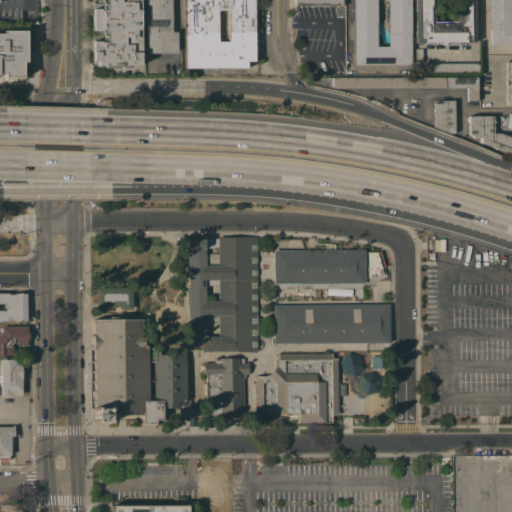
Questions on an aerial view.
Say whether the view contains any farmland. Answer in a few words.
No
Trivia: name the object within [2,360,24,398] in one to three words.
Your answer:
house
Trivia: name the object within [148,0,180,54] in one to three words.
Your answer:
building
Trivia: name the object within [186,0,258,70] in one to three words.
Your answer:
building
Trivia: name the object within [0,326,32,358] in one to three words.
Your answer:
house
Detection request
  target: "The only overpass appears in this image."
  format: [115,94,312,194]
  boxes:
[0,106,512,254]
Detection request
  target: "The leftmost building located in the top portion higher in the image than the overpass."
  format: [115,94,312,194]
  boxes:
[0,31,30,78]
